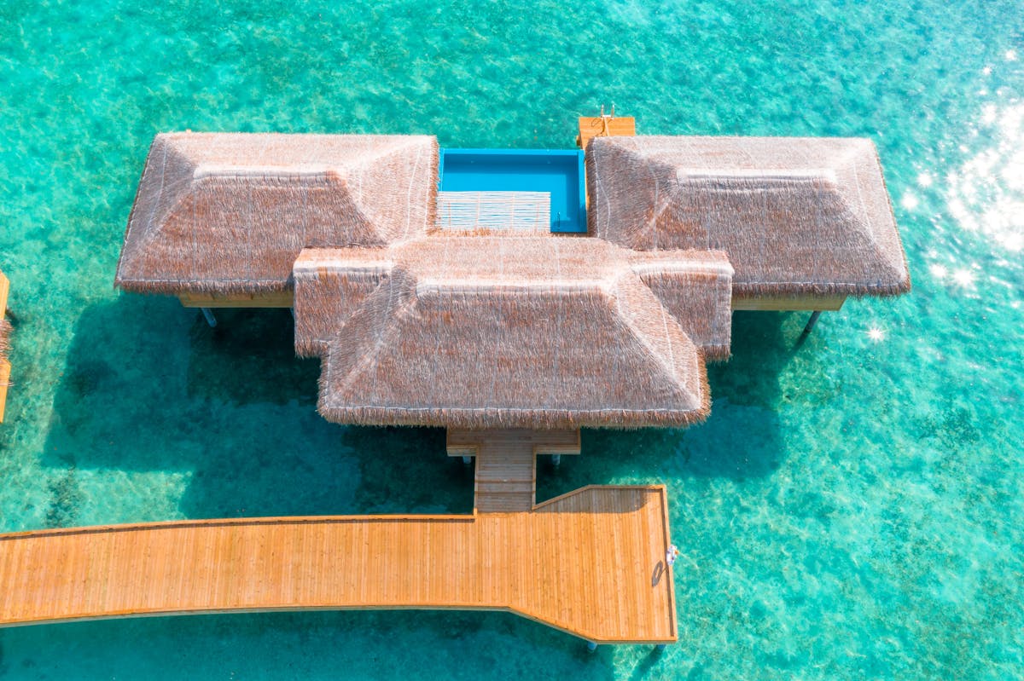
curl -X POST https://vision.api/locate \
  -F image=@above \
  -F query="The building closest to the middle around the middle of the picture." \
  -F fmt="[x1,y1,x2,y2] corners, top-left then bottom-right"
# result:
[292,232,733,430]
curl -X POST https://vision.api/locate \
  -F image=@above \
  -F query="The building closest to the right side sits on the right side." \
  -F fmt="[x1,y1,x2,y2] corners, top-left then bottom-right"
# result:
[582,135,911,341]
